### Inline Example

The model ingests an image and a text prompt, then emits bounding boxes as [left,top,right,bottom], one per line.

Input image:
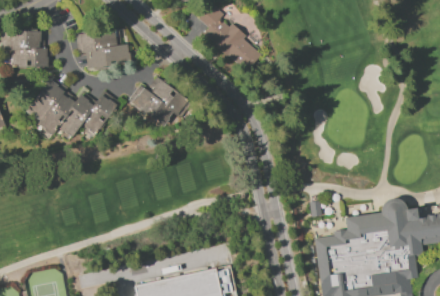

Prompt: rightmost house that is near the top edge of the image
[198,6,264,64]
